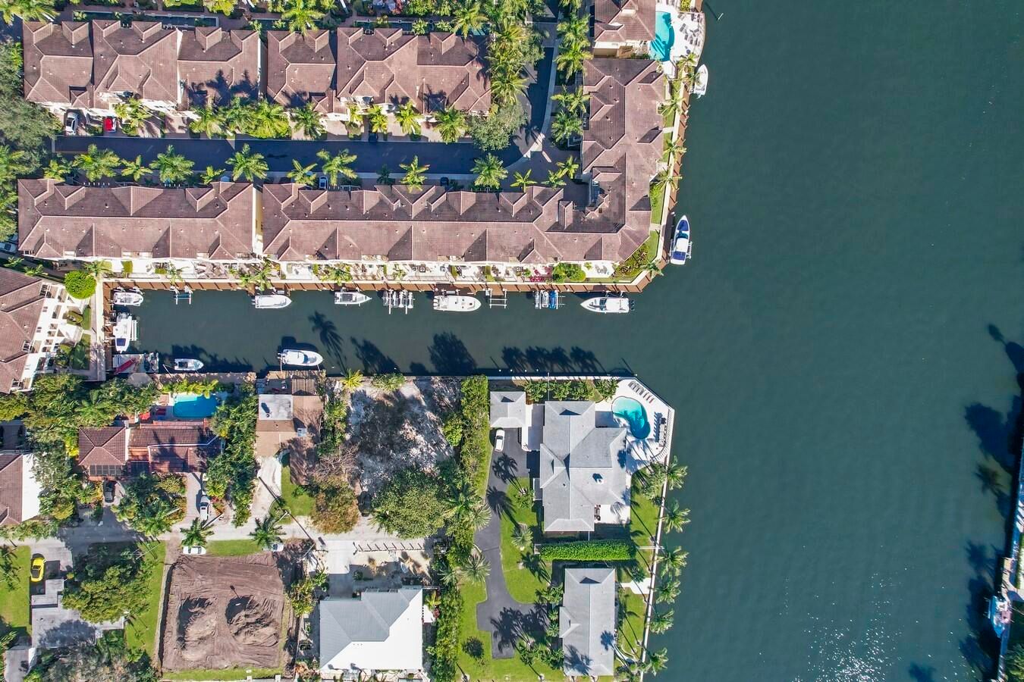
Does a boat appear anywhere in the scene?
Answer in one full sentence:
Yes, a boat appears in the view.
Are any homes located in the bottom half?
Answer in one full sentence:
Yes, I can see a home in the bottom half.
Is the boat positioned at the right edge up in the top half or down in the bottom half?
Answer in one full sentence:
You can find the boat positioned at the right edge in the bottom half.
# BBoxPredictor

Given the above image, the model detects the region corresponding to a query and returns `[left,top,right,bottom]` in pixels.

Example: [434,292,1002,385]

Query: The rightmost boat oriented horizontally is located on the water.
[582,292,634,313]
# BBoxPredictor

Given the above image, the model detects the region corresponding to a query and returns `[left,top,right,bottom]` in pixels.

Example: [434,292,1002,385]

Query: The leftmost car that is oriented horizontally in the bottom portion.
[182,544,207,556]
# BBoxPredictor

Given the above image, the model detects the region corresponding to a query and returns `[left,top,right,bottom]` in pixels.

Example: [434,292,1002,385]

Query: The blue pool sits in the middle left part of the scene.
[171,394,220,419]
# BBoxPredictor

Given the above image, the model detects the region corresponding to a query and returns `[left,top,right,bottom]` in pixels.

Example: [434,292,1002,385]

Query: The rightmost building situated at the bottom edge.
[559,566,615,676]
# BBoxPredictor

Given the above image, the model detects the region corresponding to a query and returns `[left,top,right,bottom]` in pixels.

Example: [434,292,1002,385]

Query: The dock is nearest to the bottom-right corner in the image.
[996,558,1011,601]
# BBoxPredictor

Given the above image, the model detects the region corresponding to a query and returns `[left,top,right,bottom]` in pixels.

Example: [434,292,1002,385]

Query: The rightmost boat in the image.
[986,586,1008,632]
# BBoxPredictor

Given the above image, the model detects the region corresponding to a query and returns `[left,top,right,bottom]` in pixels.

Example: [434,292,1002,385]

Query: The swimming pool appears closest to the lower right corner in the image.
[612,395,652,441]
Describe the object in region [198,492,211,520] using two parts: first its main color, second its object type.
white vehicle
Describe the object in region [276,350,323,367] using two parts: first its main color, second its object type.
white boat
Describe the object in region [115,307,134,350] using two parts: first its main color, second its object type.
white boat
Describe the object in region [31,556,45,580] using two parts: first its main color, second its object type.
yellow car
